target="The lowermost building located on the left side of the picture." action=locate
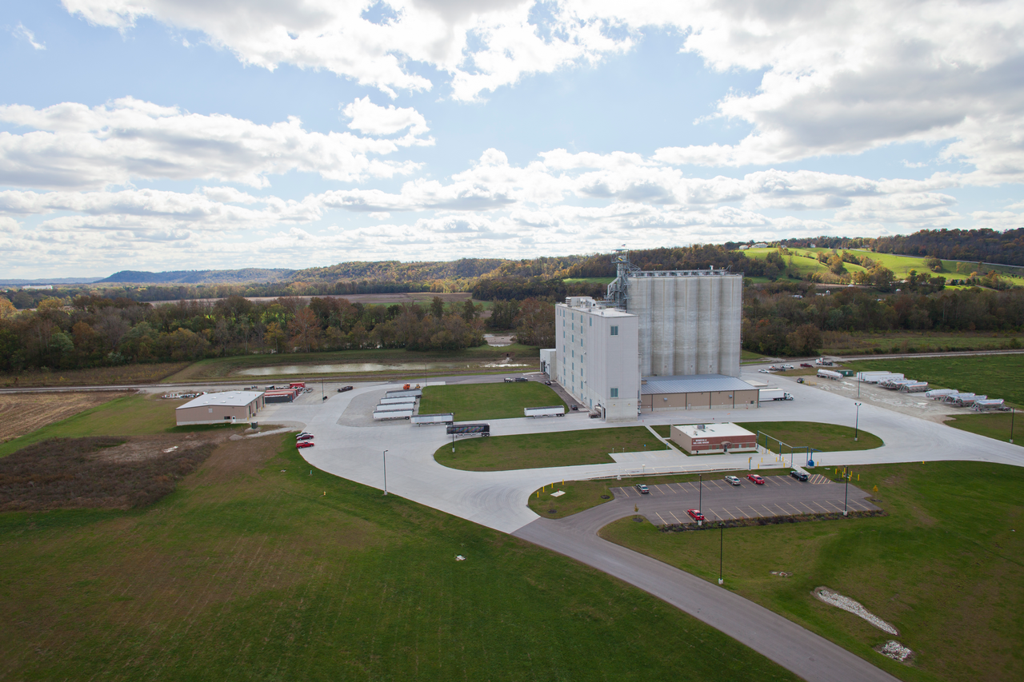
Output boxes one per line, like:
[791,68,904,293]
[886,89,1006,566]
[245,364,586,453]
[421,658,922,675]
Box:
[174,391,266,424]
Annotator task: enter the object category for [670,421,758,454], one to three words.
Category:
building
